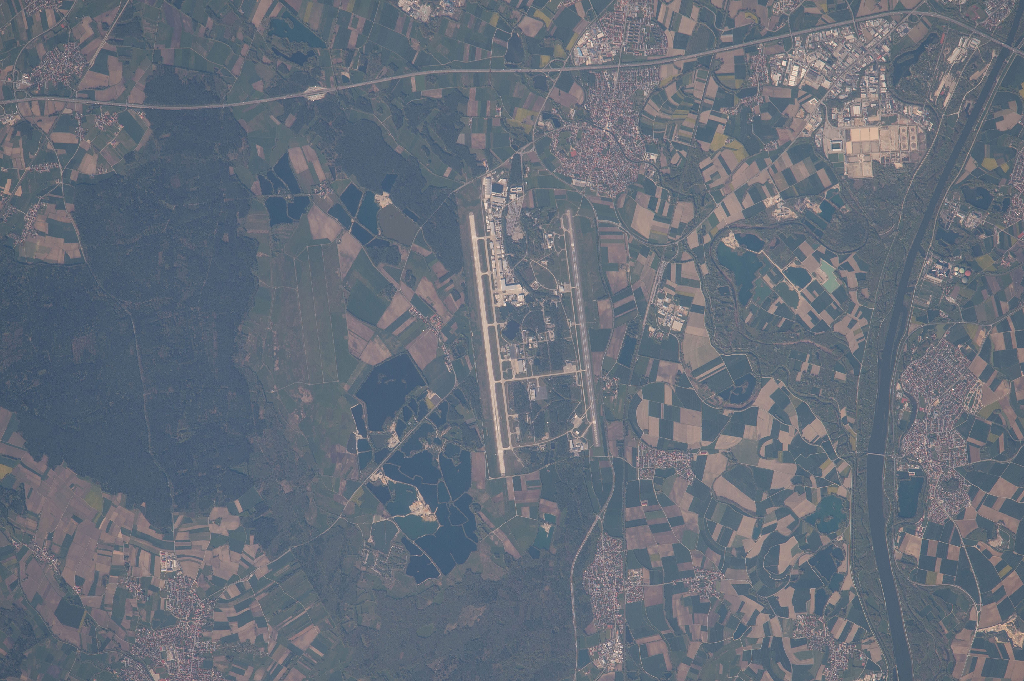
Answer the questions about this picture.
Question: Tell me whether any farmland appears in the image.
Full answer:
Yes, farmland shows up in the scene.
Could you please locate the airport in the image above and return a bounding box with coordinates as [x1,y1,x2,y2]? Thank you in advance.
[469,172,599,477]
